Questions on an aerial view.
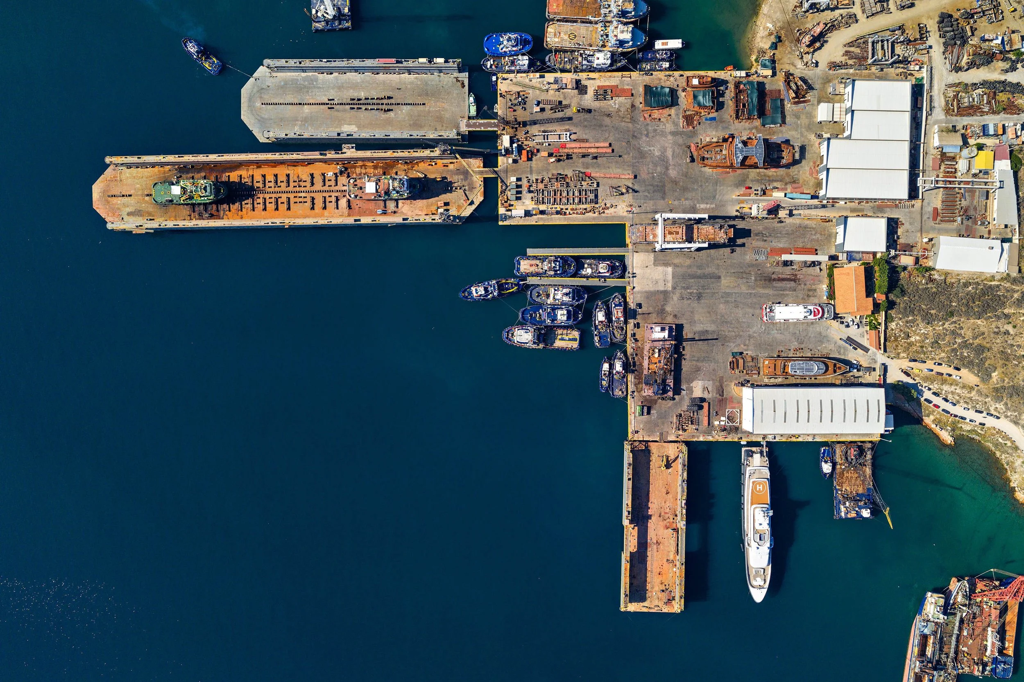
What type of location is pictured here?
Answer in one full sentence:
It's a port.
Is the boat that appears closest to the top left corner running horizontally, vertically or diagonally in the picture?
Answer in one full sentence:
The boat that appears closest to the top left corner is laid out diagonally.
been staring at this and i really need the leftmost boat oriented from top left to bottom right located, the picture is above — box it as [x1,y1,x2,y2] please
[182,37,224,75]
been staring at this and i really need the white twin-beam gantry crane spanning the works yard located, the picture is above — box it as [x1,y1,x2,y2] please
[916,177,1005,194]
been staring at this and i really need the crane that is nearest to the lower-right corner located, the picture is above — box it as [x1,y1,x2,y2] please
[965,569,1024,624]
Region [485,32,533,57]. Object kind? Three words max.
boat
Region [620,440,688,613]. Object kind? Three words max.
pier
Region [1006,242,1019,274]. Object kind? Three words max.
building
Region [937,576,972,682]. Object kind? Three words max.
ship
